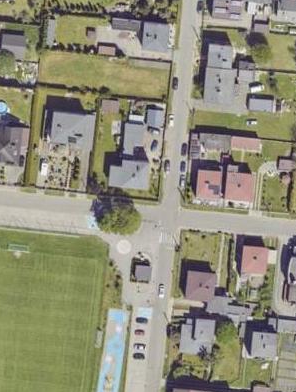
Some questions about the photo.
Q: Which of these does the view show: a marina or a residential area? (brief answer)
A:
residential area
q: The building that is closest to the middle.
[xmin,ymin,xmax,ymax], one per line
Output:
[109,163,150,189]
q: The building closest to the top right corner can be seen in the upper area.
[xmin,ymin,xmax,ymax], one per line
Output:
[275,0,296,26]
